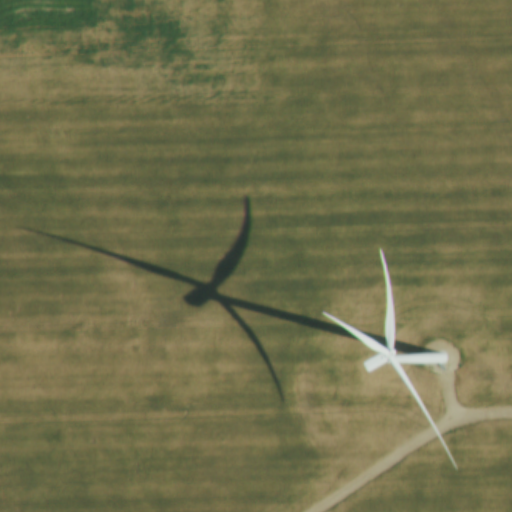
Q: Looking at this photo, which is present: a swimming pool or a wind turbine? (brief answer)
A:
wind turbine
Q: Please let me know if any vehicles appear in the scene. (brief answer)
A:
No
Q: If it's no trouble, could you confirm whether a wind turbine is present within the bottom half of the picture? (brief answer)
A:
Yes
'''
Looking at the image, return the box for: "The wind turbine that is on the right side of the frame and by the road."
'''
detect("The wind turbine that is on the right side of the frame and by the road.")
[323,246,457,466]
